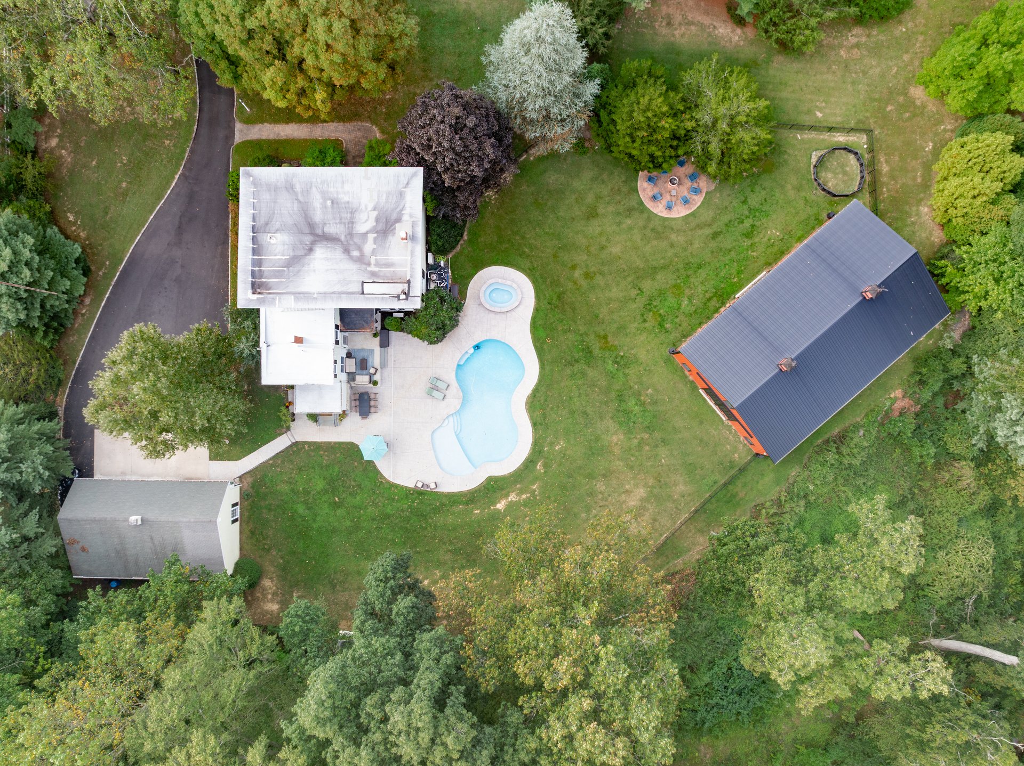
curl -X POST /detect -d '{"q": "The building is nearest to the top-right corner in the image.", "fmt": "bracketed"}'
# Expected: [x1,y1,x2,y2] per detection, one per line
[670,197,953,464]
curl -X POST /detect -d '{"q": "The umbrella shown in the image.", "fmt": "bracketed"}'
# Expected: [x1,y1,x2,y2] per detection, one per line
[361,434,389,462]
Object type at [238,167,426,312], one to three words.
house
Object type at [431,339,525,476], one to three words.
swimming pool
